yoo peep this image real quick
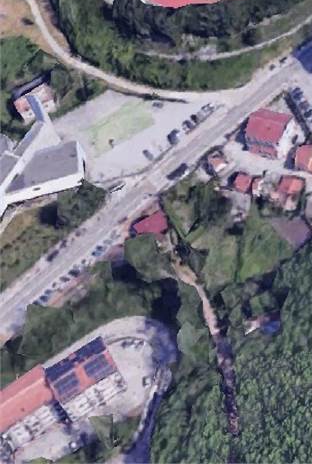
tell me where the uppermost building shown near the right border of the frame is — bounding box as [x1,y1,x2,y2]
[245,107,298,152]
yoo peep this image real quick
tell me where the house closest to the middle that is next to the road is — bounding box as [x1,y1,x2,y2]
[134,215,173,241]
